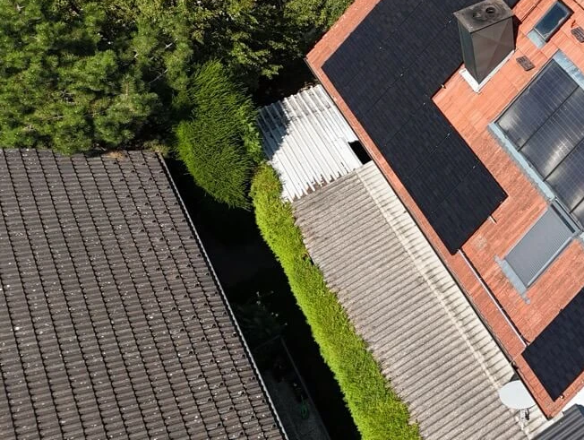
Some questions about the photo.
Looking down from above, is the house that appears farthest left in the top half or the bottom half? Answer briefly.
bottom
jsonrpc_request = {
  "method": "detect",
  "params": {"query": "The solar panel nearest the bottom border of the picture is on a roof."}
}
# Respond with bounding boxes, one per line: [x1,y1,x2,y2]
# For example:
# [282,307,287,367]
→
[522,294,584,397]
